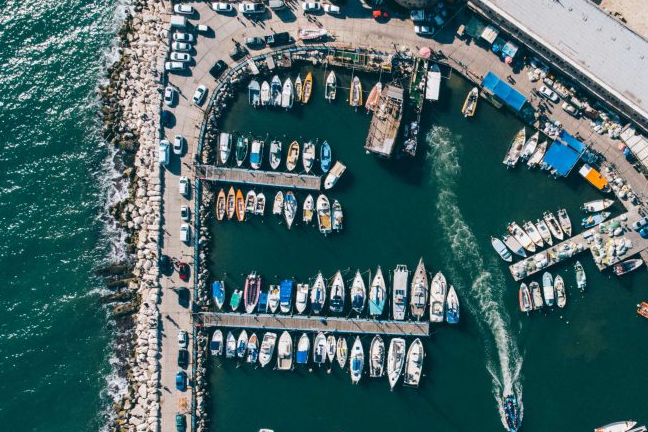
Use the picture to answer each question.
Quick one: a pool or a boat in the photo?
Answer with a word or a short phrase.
boat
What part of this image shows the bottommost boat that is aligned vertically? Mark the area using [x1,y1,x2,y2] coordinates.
[502,391,521,432]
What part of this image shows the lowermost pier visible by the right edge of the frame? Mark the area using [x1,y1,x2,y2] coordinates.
[509,210,639,280]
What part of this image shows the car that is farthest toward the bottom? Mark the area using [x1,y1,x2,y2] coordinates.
[174,410,186,431]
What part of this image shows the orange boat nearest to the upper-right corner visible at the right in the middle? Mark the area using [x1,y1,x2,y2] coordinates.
[580,165,611,192]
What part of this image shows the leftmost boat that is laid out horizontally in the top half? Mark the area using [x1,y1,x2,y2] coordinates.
[296,26,326,40]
